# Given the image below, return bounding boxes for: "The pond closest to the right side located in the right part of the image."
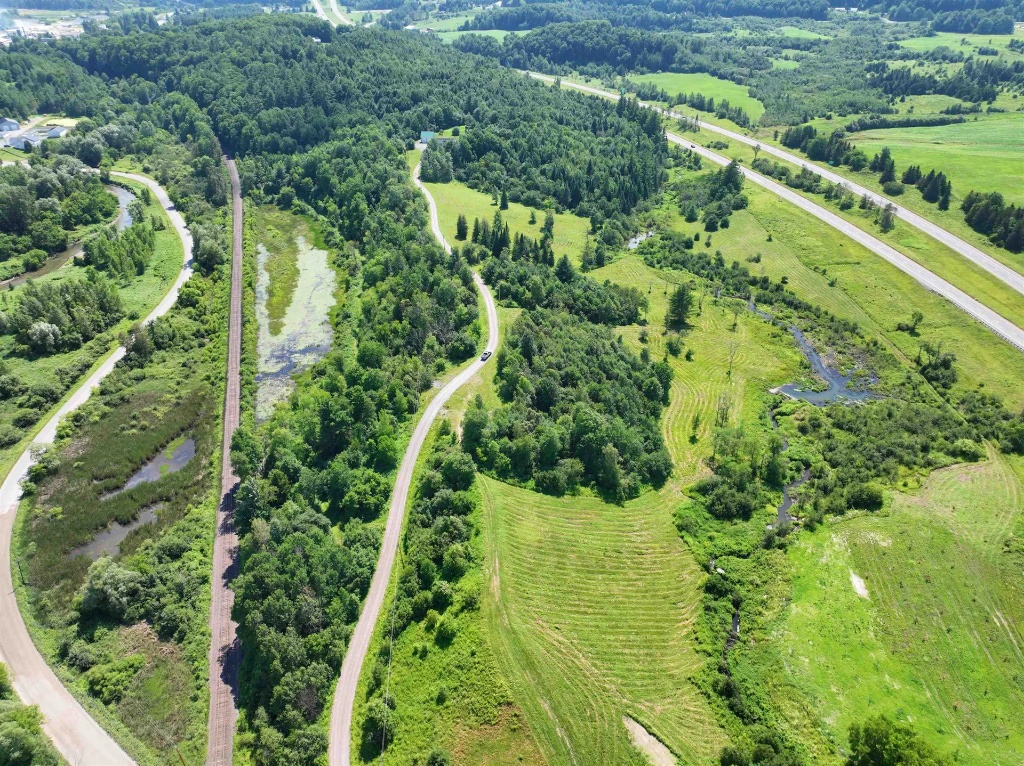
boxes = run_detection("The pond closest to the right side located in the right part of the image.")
[744,298,881,407]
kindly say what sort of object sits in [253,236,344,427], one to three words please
pond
